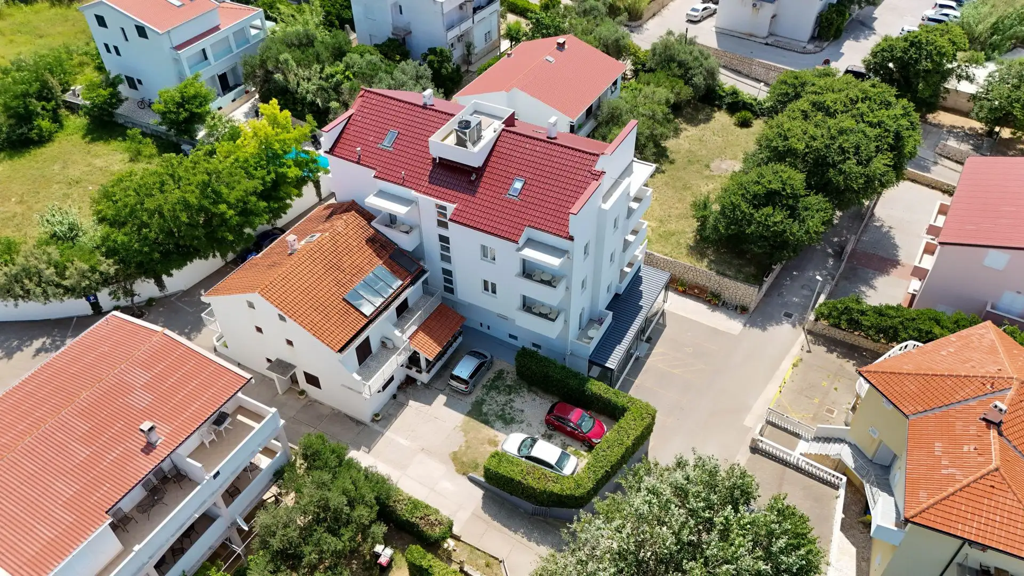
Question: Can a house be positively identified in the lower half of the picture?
Yes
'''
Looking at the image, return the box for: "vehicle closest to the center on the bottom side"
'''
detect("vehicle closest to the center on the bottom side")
[442,344,498,395]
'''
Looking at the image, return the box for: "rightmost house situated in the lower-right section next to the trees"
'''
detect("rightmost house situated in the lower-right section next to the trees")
[808,319,1024,576]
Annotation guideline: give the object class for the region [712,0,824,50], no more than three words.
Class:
building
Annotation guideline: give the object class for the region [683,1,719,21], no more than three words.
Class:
car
